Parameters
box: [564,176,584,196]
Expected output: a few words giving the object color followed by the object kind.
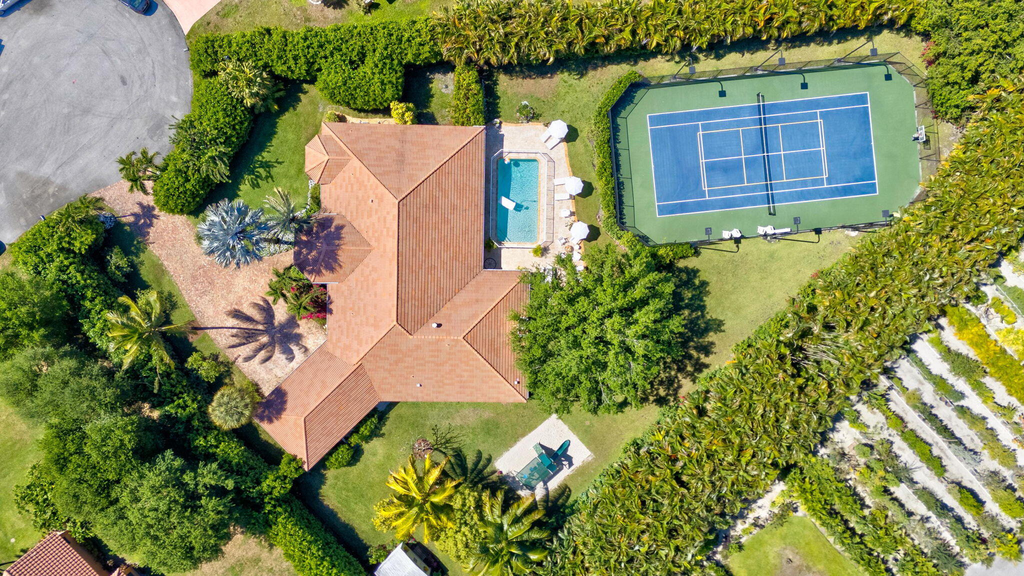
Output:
white umbrella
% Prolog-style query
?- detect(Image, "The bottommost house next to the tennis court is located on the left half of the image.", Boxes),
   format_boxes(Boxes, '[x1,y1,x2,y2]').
[253,122,530,472]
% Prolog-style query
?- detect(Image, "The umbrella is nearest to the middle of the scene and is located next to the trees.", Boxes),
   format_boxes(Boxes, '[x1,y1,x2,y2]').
[570,221,590,241]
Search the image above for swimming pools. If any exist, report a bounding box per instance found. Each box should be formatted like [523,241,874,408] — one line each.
[497,157,539,246]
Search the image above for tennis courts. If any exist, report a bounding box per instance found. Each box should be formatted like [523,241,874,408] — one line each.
[606,61,922,248]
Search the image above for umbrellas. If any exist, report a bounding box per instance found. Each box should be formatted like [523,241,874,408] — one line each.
[570,221,590,241]
[547,120,567,140]
[564,176,584,196]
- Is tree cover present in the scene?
Yes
